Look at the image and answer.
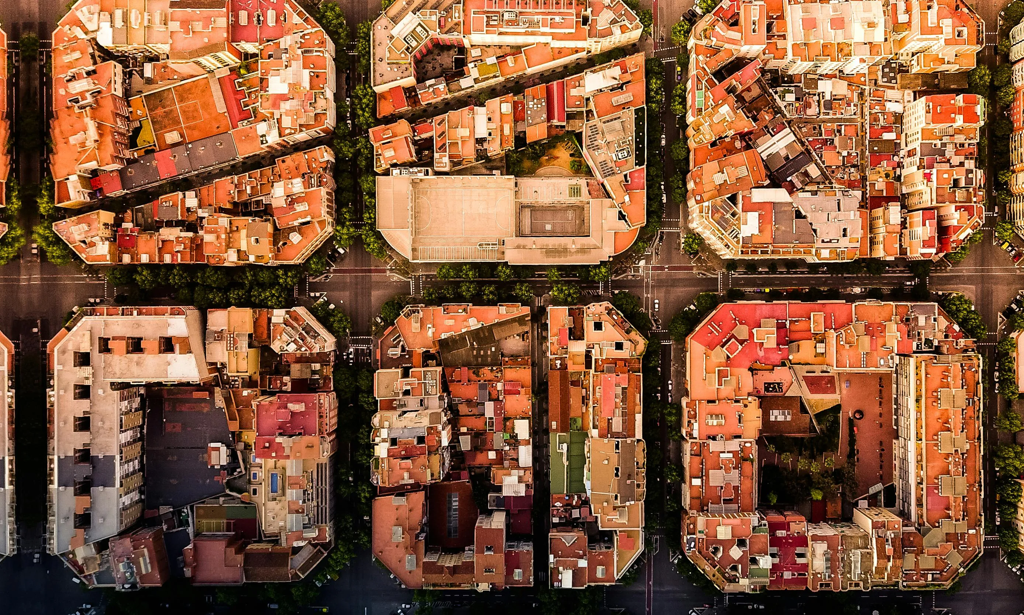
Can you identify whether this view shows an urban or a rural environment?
urban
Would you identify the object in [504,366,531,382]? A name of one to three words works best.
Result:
house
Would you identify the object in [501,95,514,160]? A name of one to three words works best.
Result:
building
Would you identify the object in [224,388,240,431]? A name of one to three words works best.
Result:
building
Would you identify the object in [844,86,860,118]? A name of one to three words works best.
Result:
house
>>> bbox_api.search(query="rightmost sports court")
[788,366,841,398]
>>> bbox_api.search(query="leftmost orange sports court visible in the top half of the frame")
[143,78,232,151]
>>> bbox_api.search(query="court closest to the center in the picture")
[410,176,514,263]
